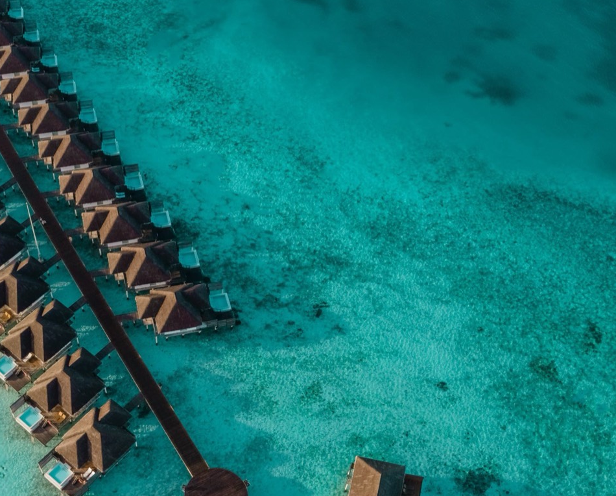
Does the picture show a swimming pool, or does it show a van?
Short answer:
swimming pool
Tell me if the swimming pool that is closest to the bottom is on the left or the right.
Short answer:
left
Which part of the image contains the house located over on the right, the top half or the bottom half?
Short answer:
bottom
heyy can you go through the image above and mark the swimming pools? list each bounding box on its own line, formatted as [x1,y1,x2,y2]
[21,30,37,44]
[207,292,229,313]
[148,210,168,229]
[98,141,118,157]
[15,406,47,436]
[37,55,55,69]
[77,111,94,126]
[43,463,75,496]
[123,174,142,192]
[57,81,74,96]
[5,8,21,20]
[176,250,197,270]
[0,353,19,381]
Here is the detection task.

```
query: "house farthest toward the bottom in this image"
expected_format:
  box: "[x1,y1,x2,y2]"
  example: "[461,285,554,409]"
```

[346,456,421,496]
